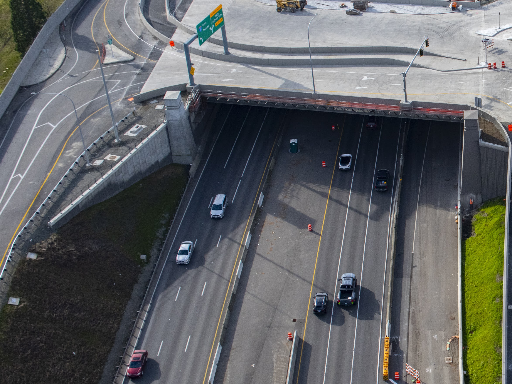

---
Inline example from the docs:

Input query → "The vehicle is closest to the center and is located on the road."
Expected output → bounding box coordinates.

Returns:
[209,193,227,217]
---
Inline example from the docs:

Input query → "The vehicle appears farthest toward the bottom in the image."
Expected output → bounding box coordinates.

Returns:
[127,350,147,378]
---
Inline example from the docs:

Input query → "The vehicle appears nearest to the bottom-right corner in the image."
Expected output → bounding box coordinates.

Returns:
[338,275,357,306]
